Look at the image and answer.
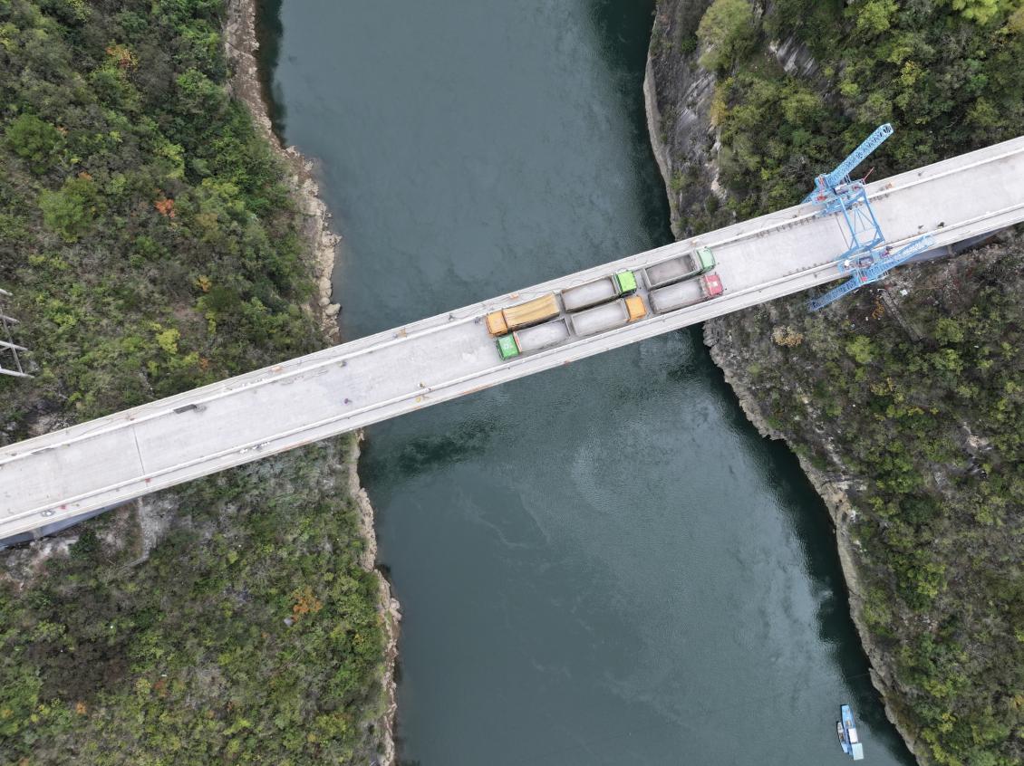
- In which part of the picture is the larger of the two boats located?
bottom right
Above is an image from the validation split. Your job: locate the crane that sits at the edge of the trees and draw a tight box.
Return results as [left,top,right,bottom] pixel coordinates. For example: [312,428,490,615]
[796,126,933,309]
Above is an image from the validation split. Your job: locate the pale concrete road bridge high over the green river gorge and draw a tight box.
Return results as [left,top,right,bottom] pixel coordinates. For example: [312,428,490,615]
[0,135,1024,547]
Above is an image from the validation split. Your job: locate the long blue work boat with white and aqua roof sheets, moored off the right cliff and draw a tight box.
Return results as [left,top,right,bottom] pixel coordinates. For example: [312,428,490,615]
[841,705,864,760]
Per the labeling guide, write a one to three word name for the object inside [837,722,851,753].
boat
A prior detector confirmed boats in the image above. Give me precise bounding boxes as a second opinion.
[837,722,851,753]
[841,705,864,760]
